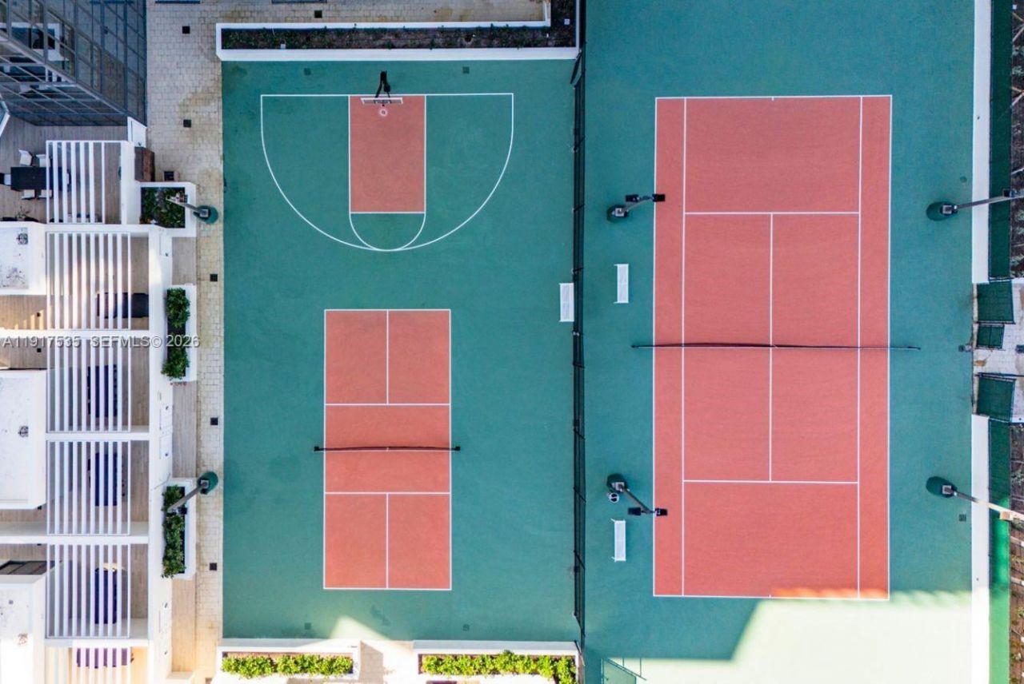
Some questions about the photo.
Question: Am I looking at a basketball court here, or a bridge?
basketball court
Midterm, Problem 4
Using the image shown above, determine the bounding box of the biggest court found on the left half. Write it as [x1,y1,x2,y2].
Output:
[222,60,573,643]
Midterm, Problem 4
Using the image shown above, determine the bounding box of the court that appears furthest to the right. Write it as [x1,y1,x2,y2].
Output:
[574,0,973,684]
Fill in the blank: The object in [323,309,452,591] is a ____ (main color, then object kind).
red sports court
